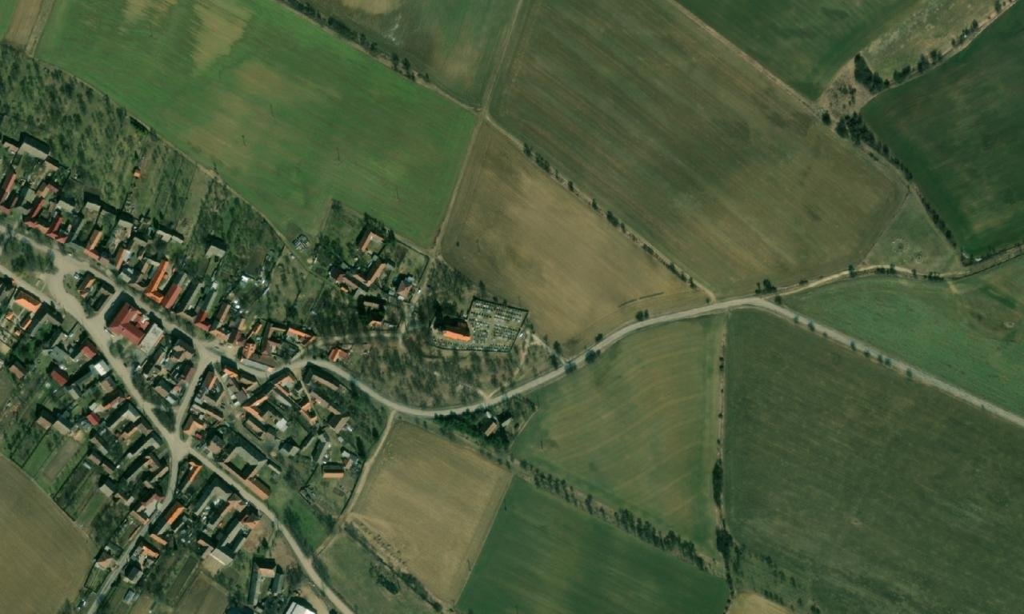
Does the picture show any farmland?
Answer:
Yes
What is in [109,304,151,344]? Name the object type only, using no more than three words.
building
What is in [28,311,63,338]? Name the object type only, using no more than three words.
barn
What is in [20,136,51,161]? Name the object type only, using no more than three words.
barn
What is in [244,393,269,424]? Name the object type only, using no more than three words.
house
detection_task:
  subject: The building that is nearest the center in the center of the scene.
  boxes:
[438,325,475,341]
